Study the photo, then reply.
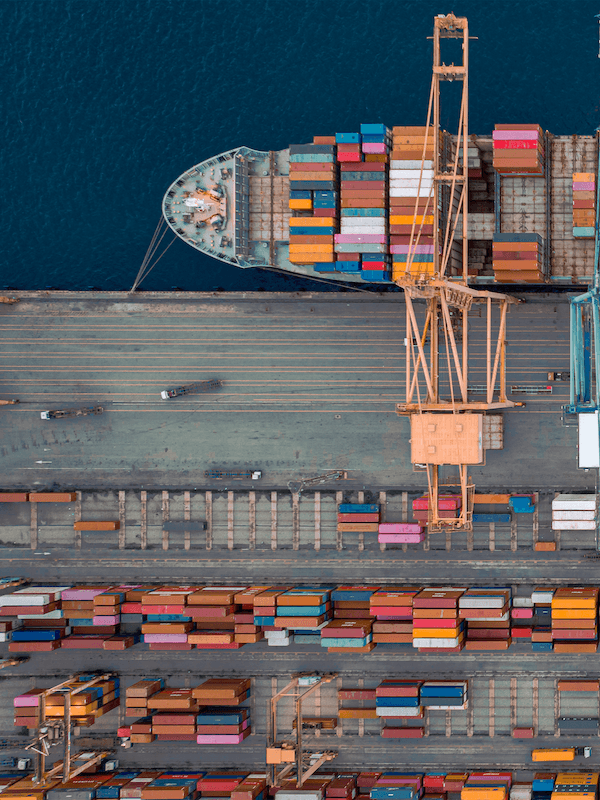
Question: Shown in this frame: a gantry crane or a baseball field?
gantry crane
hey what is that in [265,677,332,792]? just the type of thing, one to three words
crane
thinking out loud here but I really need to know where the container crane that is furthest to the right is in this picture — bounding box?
[560,30,600,532]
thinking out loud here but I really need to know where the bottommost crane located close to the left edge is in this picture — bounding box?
[26,676,116,790]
